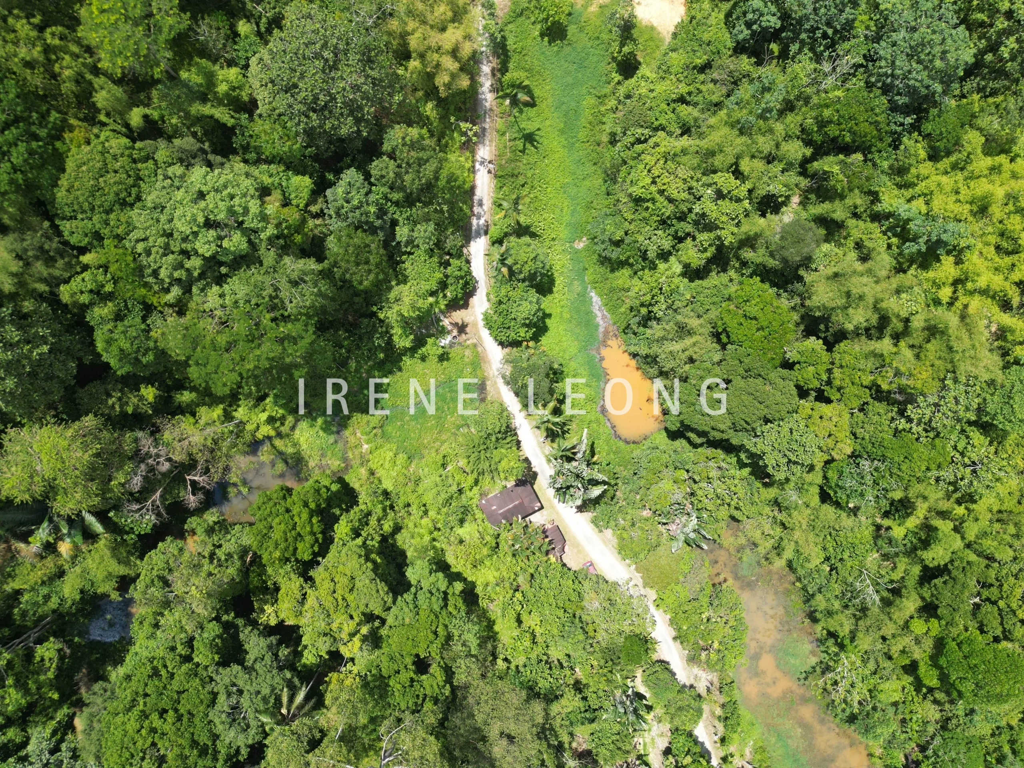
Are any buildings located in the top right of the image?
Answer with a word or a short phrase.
No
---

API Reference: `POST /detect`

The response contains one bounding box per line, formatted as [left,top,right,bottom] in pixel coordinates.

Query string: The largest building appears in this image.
[479,476,544,532]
